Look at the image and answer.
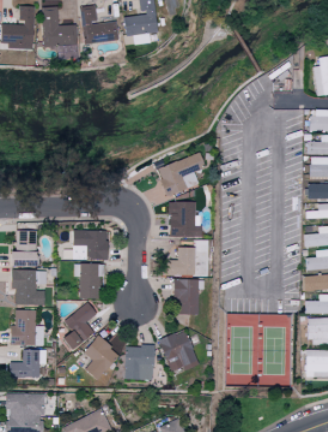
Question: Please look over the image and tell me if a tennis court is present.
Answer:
Yes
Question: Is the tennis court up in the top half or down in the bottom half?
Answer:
bottom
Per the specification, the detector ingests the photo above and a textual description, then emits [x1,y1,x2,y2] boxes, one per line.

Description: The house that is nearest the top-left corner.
[2,6,34,50]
